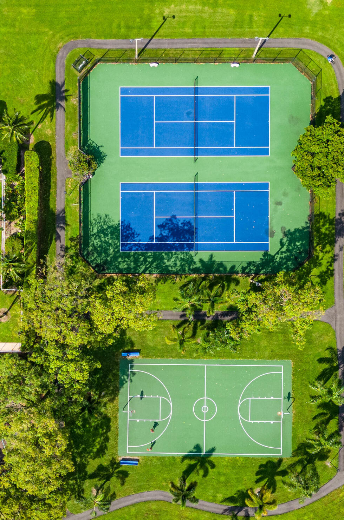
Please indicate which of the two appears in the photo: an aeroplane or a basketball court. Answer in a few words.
basketball court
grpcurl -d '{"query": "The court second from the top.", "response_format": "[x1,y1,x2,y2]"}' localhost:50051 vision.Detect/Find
[80,169,312,274]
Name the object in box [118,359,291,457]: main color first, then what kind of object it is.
green basketball court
